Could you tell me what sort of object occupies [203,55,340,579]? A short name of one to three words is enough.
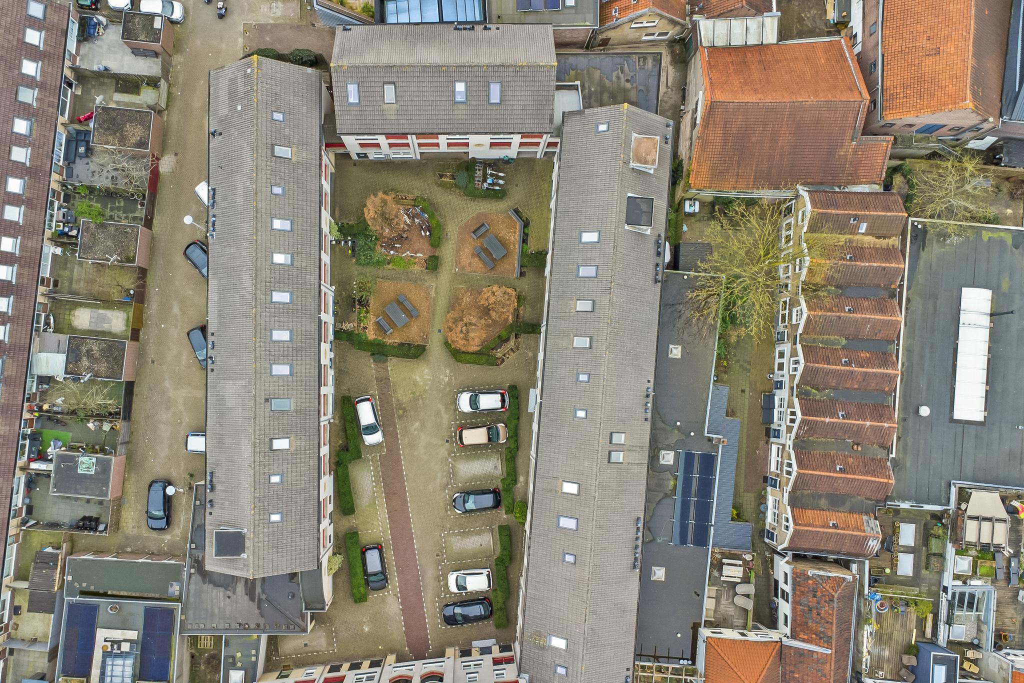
building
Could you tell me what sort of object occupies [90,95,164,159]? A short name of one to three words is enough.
shed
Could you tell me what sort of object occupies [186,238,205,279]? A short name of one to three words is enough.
car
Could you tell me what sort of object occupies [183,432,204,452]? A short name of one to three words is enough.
car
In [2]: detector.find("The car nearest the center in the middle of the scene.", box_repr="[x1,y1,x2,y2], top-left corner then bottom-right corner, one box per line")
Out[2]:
[457,389,509,415]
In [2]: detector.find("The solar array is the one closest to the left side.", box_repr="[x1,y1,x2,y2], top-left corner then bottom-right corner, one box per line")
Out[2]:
[60,602,98,676]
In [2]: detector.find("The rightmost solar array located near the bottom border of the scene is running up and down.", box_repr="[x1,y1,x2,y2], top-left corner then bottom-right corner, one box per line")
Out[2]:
[138,605,175,681]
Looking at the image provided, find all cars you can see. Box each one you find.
[195,179,206,205]
[451,488,502,514]
[457,423,508,447]
[135,0,187,26]
[109,0,133,14]
[457,389,509,415]
[356,395,382,447]
[442,597,494,626]
[183,432,204,452]
[77,0,103,13]
[447,569,494,594]
[186,238,205,279]
[362,544,388,589]
[145,479,173,530]
[187,324,205,374]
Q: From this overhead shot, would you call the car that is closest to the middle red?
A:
No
